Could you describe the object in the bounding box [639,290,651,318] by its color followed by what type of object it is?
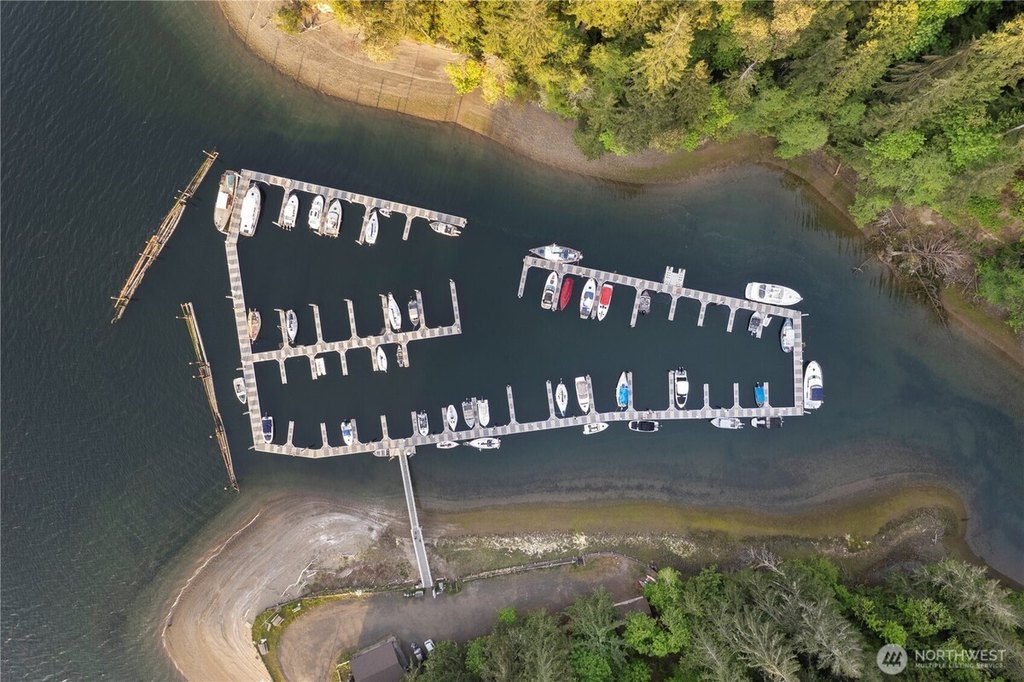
gray boat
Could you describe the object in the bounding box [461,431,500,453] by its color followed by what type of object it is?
white boat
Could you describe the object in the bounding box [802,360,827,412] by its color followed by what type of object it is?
white boat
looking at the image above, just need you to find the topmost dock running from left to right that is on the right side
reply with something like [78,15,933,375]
[517,256,803,340]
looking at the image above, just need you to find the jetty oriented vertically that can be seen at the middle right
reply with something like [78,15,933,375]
[792,319,804,407]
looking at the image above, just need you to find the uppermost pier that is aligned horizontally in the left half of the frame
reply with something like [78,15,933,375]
[246,170,467,246]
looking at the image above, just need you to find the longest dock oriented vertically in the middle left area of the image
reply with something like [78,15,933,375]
[227,168,265,444]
